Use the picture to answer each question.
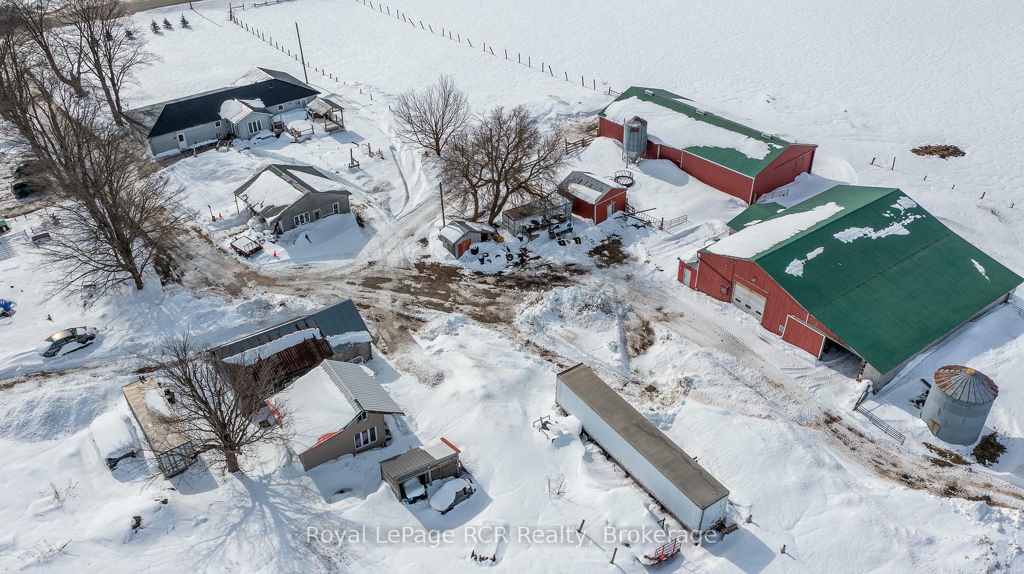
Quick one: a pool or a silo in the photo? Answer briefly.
silo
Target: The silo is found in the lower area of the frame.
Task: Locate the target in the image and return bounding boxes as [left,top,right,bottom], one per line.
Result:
[915,362,1000,444]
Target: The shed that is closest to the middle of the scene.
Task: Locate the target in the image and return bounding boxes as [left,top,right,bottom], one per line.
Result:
[441,220,499,259]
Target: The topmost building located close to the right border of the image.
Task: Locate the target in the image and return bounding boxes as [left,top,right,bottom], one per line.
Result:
[695,185,1023,397]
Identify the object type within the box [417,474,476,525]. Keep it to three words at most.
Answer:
car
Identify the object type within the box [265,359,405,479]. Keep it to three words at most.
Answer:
building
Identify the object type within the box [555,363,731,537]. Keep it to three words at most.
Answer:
trailer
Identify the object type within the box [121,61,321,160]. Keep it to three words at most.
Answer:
house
